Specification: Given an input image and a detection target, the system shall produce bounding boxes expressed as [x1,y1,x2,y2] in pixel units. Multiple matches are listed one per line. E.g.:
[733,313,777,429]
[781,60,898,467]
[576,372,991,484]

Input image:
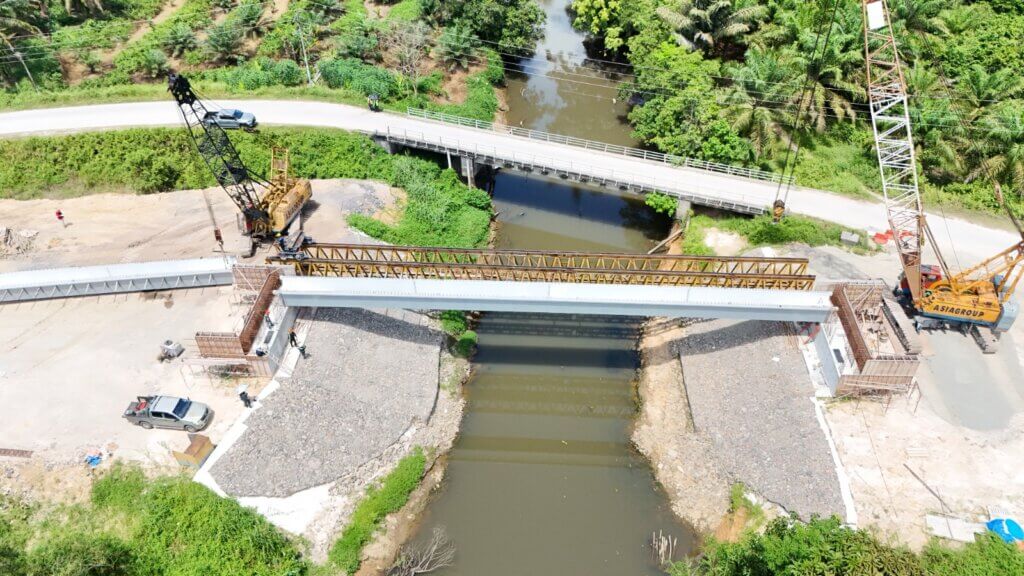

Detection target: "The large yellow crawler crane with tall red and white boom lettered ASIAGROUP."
[773,0,1024,357]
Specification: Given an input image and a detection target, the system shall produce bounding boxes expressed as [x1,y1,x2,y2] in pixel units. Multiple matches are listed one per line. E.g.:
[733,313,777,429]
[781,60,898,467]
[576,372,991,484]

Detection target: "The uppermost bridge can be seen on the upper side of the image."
[372,104,781,239]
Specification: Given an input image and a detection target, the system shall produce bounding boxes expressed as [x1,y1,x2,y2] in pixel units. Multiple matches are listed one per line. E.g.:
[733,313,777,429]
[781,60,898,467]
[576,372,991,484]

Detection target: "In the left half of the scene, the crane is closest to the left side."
[155,78,320,268]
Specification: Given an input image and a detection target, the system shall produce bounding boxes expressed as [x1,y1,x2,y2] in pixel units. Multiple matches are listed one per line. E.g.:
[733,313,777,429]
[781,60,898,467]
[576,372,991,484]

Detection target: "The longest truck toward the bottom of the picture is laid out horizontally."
[118,391,211,431]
